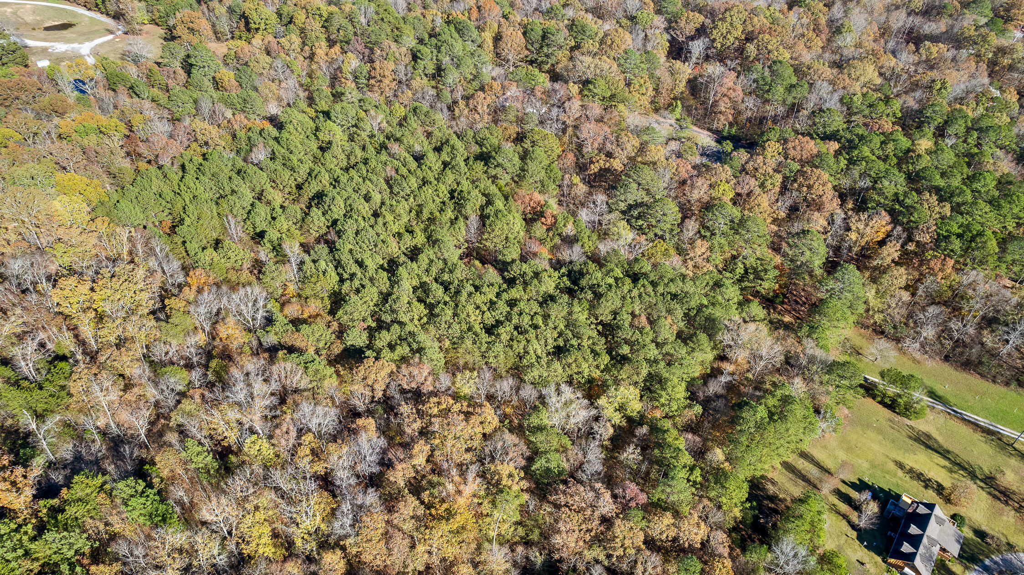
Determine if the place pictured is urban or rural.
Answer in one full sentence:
The area shown here is rural.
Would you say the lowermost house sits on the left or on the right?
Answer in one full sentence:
The lowermost house sits on the right side.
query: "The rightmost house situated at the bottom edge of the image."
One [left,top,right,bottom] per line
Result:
[880,493,966,575]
